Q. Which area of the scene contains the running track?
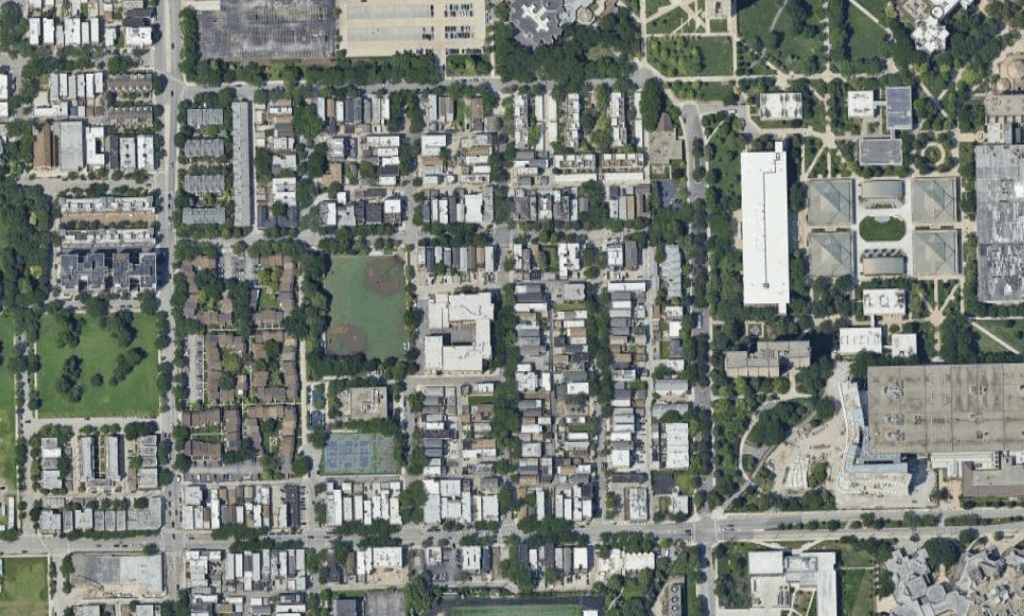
bottom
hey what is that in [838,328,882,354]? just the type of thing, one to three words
building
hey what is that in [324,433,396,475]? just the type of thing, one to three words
tennis court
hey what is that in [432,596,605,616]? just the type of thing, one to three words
running track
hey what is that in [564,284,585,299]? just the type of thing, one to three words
house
